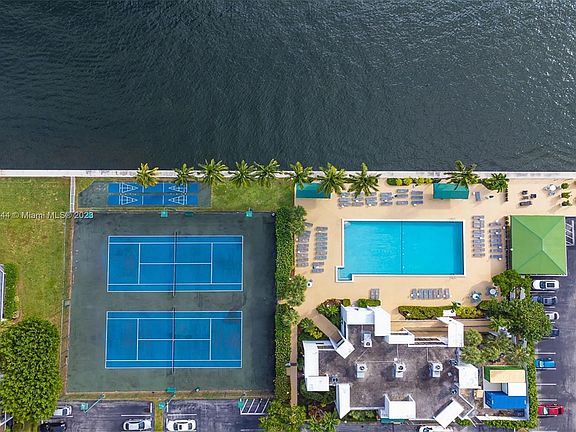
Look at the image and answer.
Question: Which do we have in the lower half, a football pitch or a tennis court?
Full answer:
The feature located in the lower half is a tennis court.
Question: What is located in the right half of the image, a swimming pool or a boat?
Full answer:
The feature located in the right half of the image is a swimming pool.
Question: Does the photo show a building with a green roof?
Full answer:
Yes, looking at the shot, I can spot a building with a green roof.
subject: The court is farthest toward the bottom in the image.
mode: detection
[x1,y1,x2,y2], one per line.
[106,306,242,375]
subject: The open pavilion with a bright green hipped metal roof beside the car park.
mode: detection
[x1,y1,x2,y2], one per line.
[503,214,567,276]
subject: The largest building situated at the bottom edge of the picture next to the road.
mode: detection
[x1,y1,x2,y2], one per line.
[303,303,478,428]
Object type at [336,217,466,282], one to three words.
swimming pool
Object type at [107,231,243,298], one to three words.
tennis court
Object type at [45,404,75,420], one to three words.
car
